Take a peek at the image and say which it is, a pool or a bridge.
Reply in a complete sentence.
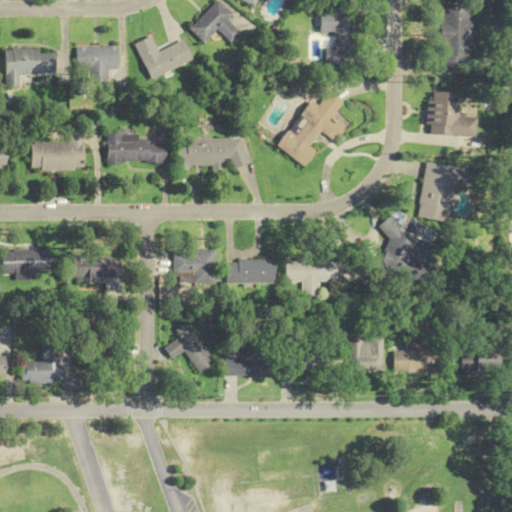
The image shows a pool.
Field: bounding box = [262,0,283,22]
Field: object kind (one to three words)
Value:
swimming pool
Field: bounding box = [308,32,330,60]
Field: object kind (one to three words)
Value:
swimming pool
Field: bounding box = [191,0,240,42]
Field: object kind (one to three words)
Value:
house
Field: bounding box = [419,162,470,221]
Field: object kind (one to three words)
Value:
house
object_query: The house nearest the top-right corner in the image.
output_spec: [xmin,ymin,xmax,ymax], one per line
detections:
[441,8,472,62]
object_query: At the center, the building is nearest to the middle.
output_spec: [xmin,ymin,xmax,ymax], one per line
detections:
[228,258,277,284]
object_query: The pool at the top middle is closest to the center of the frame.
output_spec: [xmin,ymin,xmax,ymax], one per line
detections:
[258,94,306,142]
